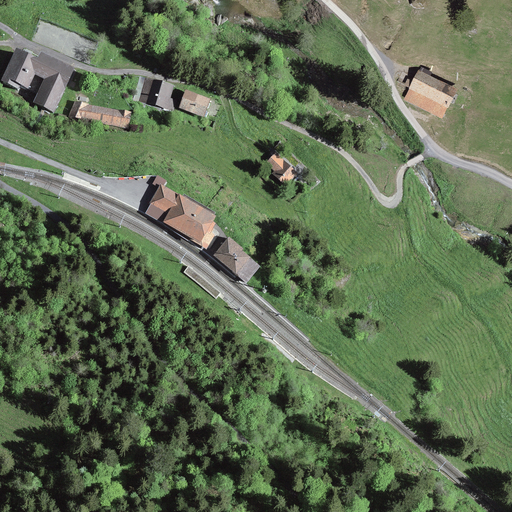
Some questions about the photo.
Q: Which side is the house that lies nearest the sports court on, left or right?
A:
left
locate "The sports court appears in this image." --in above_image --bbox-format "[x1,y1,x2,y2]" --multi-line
[32,20,96,64]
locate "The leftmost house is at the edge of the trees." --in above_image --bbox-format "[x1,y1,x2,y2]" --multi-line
[3,48,74,114]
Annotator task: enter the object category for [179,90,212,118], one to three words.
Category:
house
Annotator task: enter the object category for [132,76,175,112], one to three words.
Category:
house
